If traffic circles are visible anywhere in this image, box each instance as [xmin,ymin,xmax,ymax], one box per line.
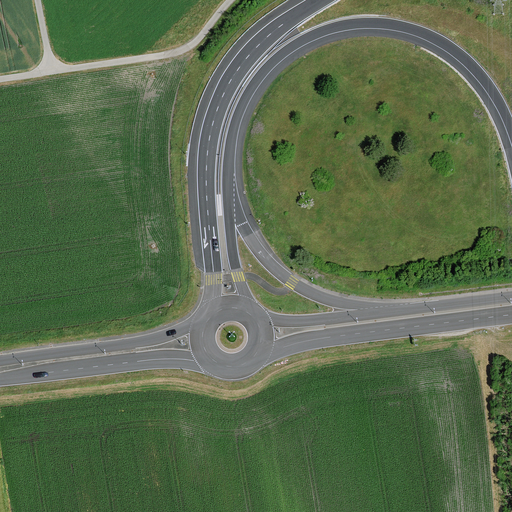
[190,294,274,380]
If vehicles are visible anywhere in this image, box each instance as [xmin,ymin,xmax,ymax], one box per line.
[166,330,176,336]
[33,371,48,378]
[212,238,218,252]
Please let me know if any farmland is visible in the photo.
Yes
